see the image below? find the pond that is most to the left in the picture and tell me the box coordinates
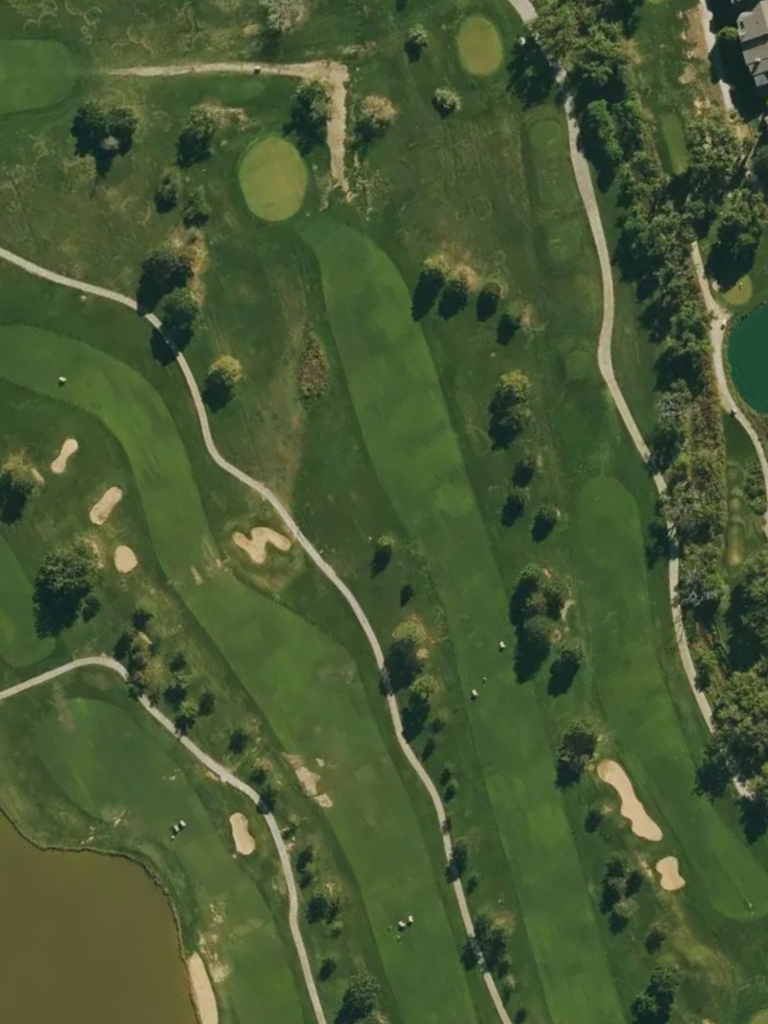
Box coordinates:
[0,808,197,1024]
